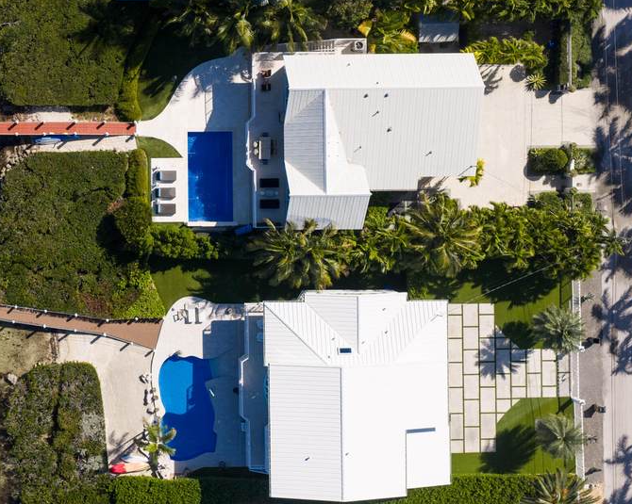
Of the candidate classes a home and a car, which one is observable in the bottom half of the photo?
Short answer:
home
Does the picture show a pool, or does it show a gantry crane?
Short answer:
pool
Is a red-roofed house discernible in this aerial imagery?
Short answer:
No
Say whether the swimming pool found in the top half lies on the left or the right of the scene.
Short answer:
left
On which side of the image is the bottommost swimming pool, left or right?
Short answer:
left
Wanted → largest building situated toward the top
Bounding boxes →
[246,39,485,231]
